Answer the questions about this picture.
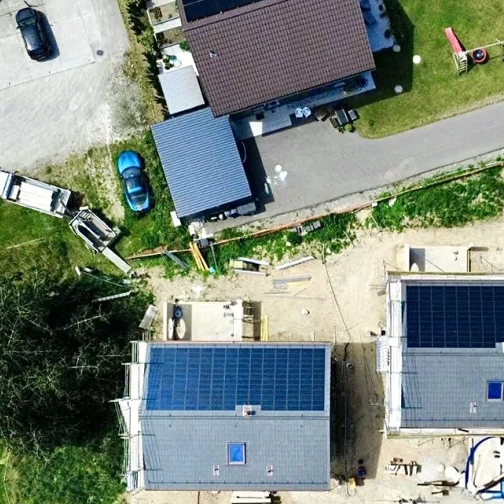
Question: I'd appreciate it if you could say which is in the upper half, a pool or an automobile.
automobile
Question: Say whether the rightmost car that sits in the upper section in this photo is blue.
Yes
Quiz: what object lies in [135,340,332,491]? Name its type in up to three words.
house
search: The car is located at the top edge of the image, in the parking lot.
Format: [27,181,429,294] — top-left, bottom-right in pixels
[10,3,48,60]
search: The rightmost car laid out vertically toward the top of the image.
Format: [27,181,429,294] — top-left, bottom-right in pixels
[116,150,148,211]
